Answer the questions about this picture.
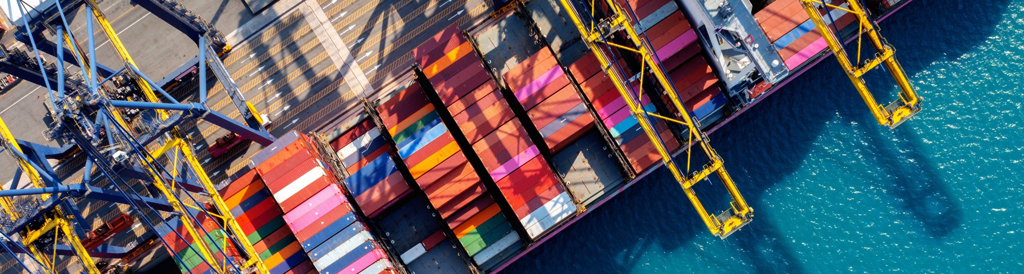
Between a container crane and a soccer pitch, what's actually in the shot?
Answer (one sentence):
I can see a container crane in this picture.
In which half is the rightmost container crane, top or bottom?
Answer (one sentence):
You can find the rightmost container crane in the top half.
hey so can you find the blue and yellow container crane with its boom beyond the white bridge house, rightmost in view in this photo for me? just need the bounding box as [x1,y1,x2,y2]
[790,0,926,138]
